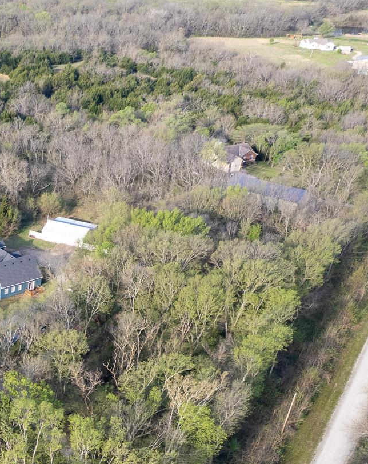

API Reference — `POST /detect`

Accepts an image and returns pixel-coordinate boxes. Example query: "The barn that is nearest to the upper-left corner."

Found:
[40,211,93,247]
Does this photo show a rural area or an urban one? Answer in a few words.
rural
